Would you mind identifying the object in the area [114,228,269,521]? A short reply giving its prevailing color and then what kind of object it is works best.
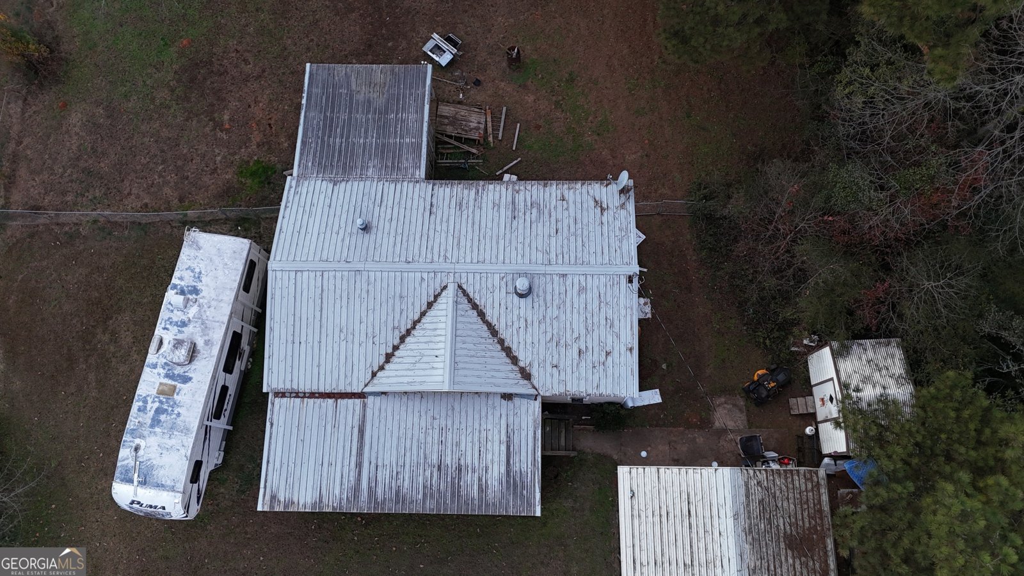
white trailer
